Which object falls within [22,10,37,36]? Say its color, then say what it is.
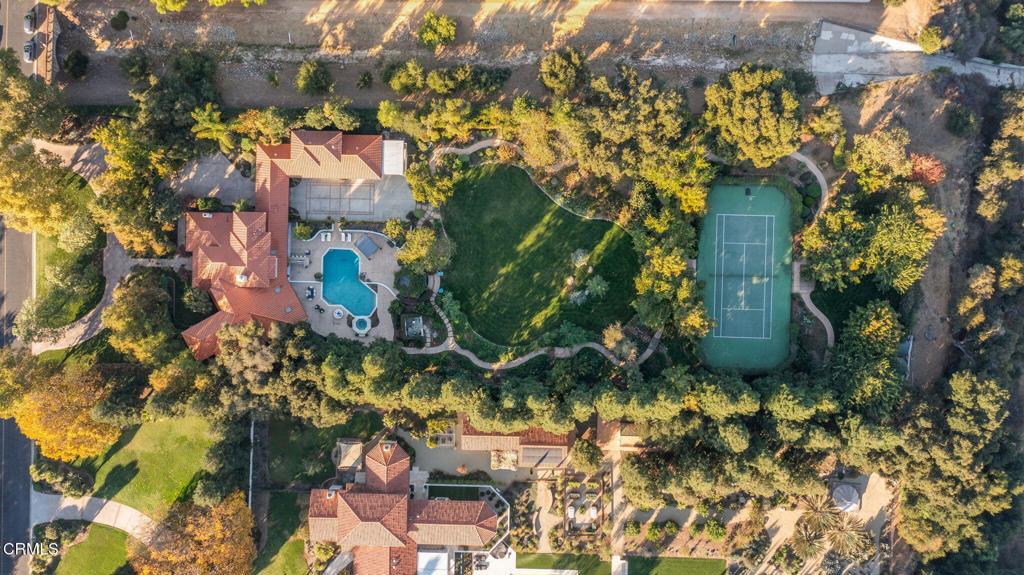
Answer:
gray car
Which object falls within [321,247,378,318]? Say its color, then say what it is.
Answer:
blue swimming pool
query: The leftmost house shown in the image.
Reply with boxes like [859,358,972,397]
[181,131,382,360]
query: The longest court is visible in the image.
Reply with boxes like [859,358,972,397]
[699,183,794,369]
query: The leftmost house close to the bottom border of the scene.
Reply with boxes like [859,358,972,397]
[307,439,497,575]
